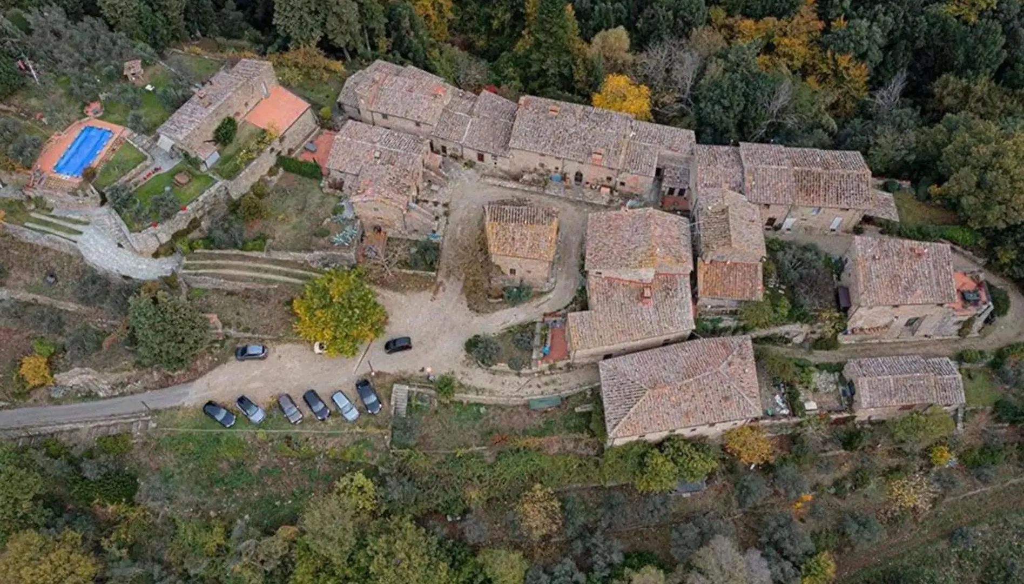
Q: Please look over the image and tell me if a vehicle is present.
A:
Yes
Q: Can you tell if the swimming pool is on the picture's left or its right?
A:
left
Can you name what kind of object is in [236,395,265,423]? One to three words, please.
car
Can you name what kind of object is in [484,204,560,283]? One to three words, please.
house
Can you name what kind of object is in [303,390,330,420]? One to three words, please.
car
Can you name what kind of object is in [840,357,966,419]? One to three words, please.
barn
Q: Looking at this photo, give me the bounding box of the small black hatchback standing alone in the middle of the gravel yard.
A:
[385,337,412,354]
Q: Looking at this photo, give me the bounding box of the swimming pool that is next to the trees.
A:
[50,125,117,180]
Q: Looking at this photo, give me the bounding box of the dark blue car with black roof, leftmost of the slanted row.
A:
[202,400,236,427]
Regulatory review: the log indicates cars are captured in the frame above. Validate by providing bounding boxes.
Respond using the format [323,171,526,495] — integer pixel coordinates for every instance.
[331,391,359,421]
[234,344,269,361]
[202,400,236,427]
[276,393,303,423]
[303,390,330,420]
[236,395,265,423]
[385,337,412,354]
[357,379,382,414]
